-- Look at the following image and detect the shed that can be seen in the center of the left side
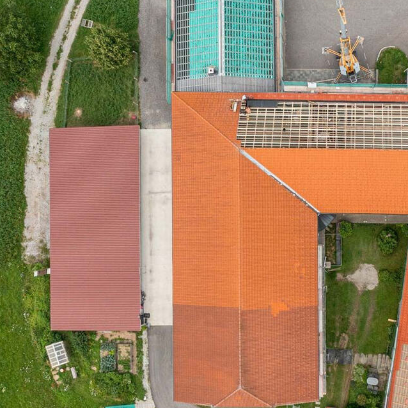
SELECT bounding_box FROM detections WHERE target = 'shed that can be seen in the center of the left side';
[26,125,144,332]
